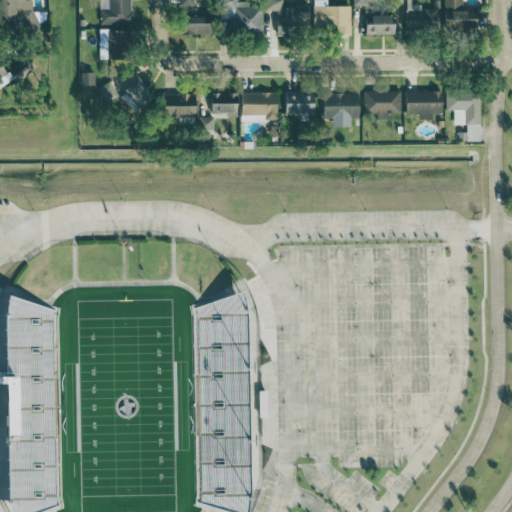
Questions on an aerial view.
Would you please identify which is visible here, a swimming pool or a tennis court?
swimming pool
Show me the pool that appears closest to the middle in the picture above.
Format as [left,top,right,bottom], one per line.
[242,122,267,142]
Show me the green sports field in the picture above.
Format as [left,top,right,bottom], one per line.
[54,286,199,512]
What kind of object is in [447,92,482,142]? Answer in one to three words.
house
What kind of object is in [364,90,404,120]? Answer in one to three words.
house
